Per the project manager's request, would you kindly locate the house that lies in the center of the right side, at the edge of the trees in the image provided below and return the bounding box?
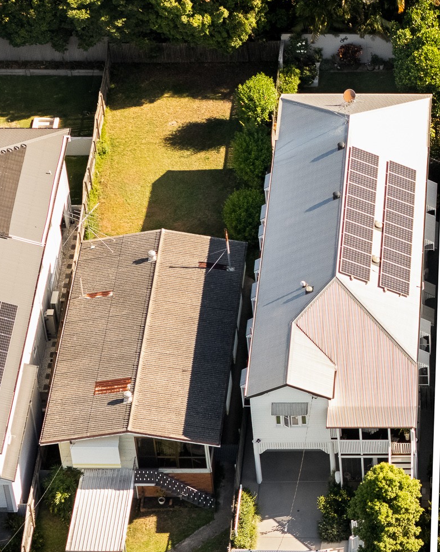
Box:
[242,93,439,529]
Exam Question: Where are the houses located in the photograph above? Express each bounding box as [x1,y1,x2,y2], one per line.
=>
[0,134,70,512]
[242,93,439,529]
[40,228,248,506]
